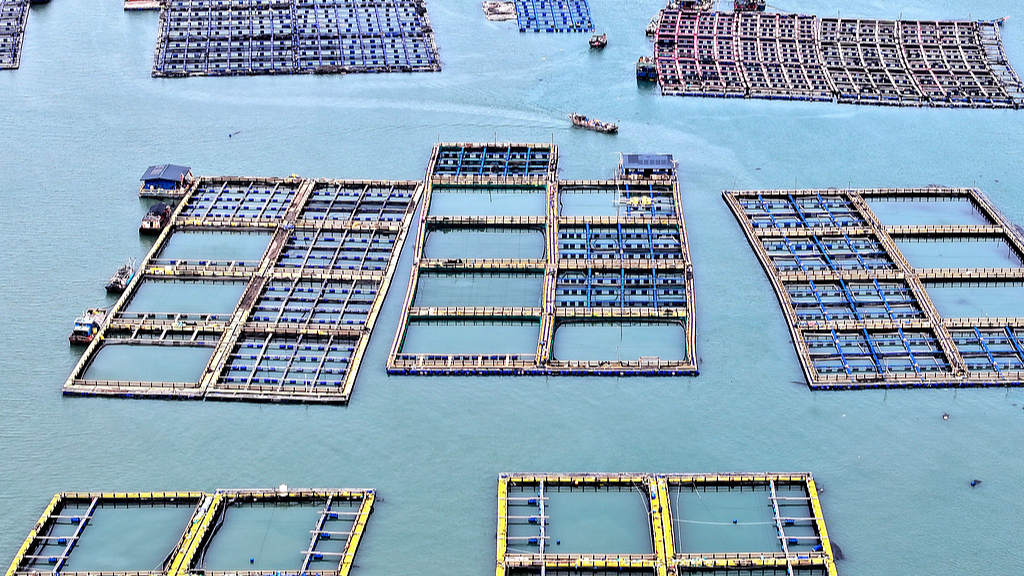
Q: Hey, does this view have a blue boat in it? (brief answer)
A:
Yes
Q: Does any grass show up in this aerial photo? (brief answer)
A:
No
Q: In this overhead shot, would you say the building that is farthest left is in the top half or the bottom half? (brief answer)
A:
top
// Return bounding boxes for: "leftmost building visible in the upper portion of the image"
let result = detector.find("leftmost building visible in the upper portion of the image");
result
[136,164,194,198]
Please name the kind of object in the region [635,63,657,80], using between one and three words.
boat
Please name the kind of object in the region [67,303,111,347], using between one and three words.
boat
